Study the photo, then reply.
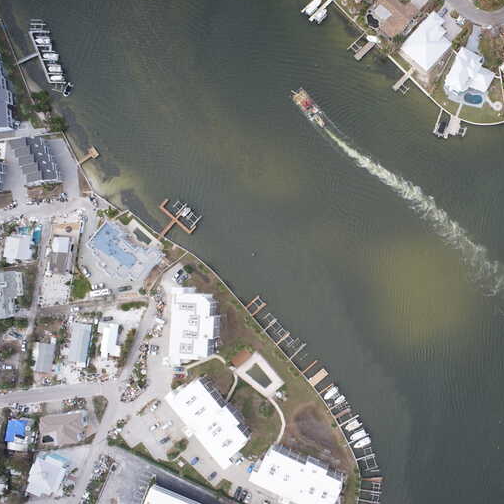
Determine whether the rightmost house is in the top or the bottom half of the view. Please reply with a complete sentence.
The top half of the photo is where the rightmost house is.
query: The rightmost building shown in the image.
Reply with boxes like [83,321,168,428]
[446,47,495,92]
